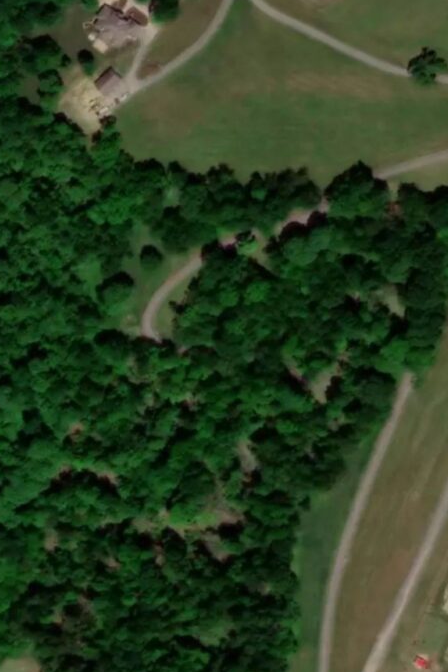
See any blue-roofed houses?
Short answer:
No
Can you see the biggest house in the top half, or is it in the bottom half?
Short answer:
top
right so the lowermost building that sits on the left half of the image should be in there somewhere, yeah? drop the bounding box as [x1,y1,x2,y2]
[97,67,124,95]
